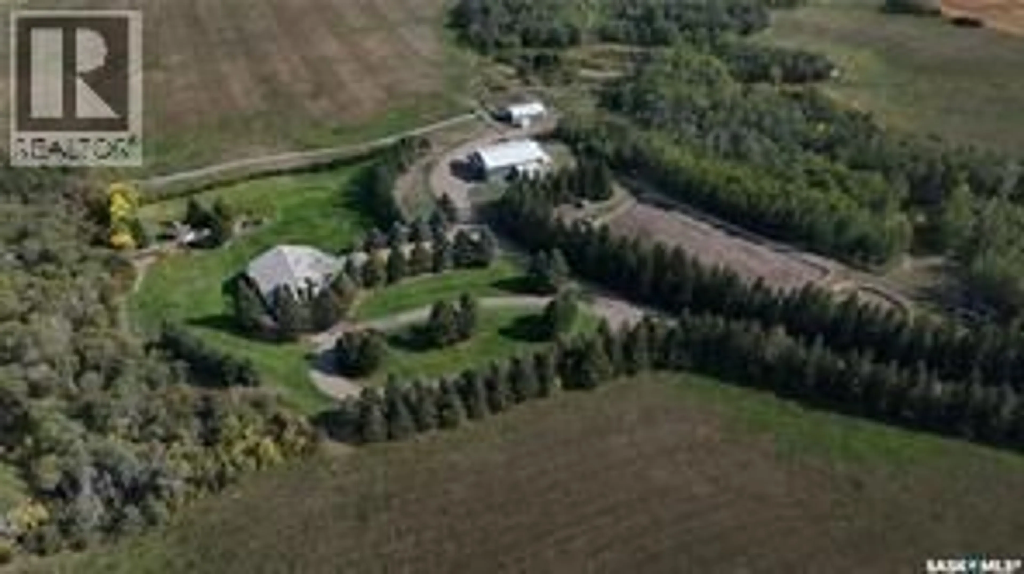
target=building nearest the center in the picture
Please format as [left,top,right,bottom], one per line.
[477,141,552,184]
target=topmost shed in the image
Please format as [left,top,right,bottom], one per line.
[505,102,547,126]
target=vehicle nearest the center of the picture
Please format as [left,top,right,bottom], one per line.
[462,150,479,165]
